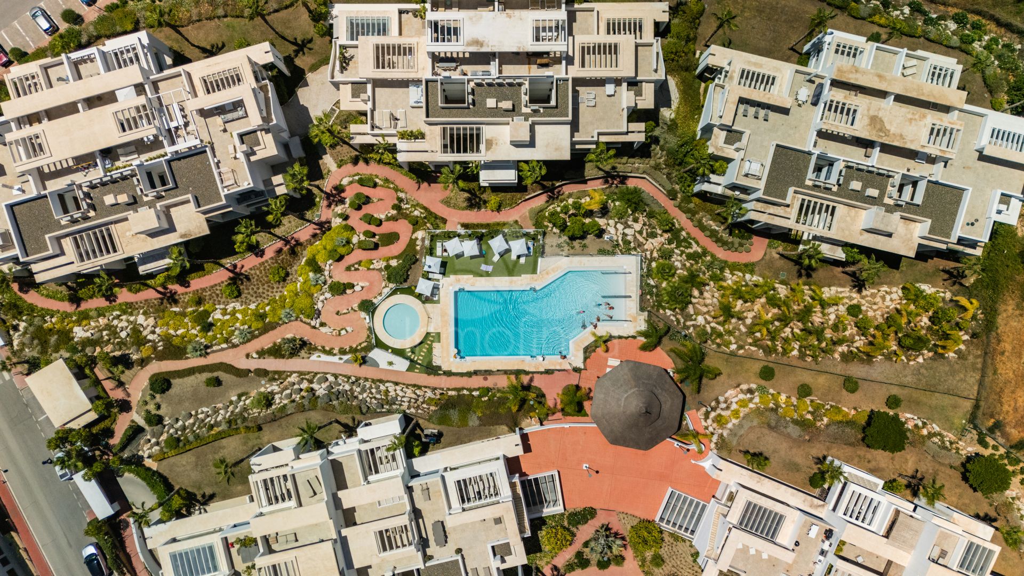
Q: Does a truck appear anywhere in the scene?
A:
Yes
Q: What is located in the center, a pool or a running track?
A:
pool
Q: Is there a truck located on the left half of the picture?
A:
Yes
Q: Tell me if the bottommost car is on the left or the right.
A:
left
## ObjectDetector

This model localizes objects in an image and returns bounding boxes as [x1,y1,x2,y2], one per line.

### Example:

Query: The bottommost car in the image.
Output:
[80,543,110,576]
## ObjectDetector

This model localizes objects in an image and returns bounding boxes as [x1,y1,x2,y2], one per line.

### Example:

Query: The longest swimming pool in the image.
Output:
[451,266,629,360]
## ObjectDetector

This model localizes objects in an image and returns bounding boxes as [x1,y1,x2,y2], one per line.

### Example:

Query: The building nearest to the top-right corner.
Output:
[688,30,1024,259]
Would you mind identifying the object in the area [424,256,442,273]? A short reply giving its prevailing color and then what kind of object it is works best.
white umbrella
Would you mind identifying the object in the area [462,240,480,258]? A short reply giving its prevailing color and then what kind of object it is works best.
white umbrella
